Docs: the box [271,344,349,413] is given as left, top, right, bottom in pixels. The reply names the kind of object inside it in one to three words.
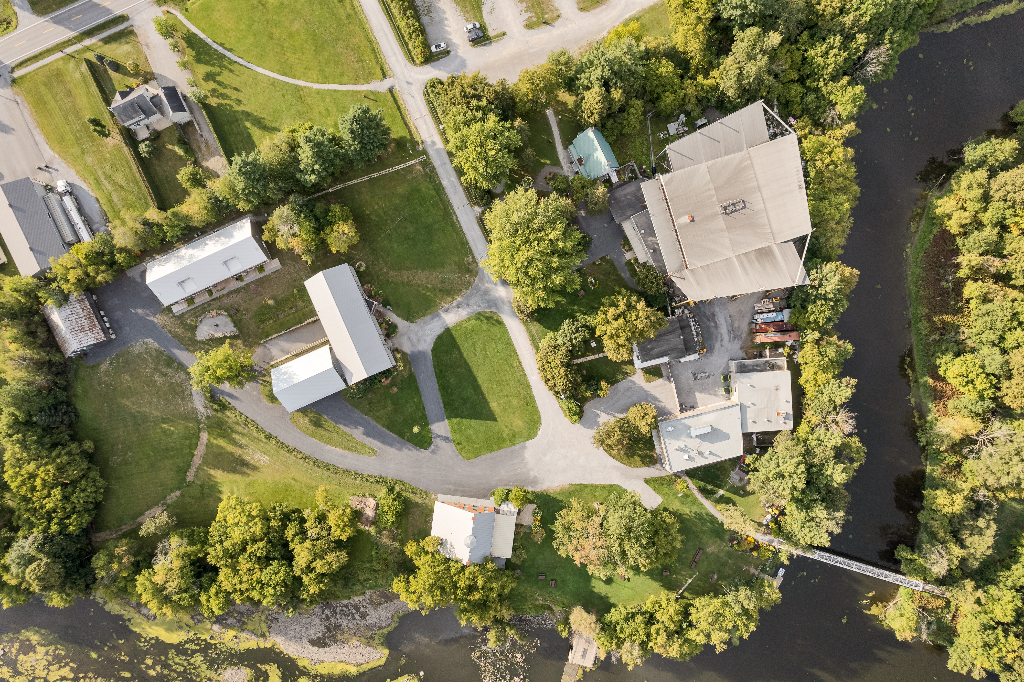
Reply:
barn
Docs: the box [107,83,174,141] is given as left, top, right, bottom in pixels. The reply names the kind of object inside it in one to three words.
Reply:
house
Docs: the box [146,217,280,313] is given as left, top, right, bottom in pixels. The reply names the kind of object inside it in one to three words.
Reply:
building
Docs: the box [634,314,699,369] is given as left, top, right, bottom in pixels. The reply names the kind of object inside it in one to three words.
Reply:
shed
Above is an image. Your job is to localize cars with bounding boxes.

[431,42,447,52]
[463,22,480,33]
[466,31,484,42]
